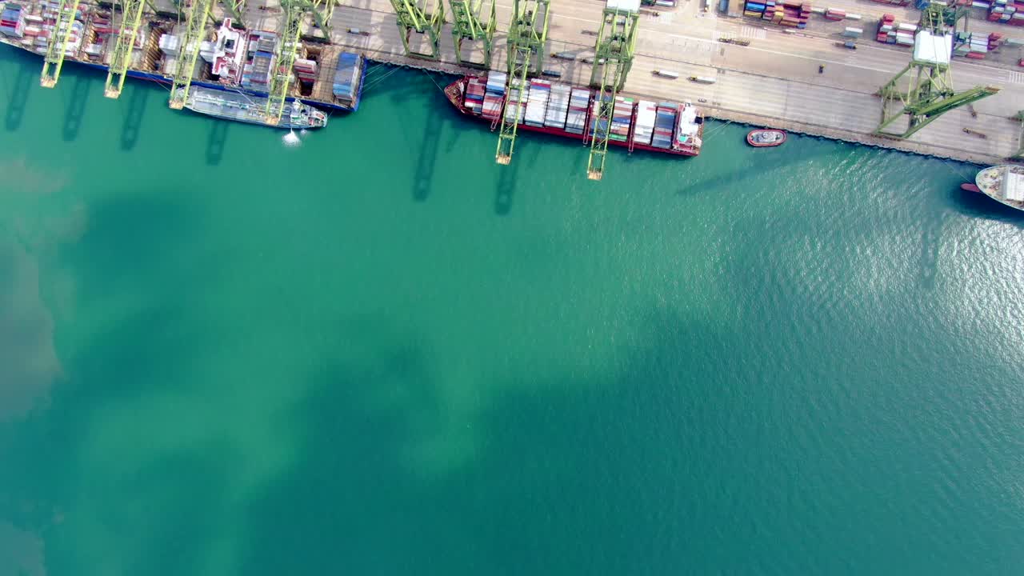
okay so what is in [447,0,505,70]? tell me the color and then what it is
green container crane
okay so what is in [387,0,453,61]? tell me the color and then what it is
green container crane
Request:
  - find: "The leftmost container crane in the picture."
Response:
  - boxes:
[36,0,142,88]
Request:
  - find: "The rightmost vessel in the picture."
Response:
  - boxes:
[960,166,1024,214]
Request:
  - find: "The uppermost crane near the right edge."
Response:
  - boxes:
[951,4,985,59]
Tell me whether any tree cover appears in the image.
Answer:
No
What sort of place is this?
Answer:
port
